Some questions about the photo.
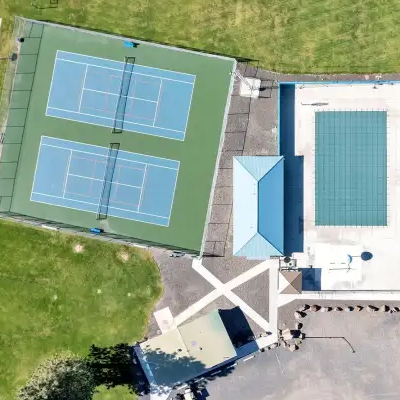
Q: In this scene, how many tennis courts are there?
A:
2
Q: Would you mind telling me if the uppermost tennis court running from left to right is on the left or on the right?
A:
left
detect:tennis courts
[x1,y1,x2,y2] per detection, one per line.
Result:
[45,51,195,140]
[30,136,180,226]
